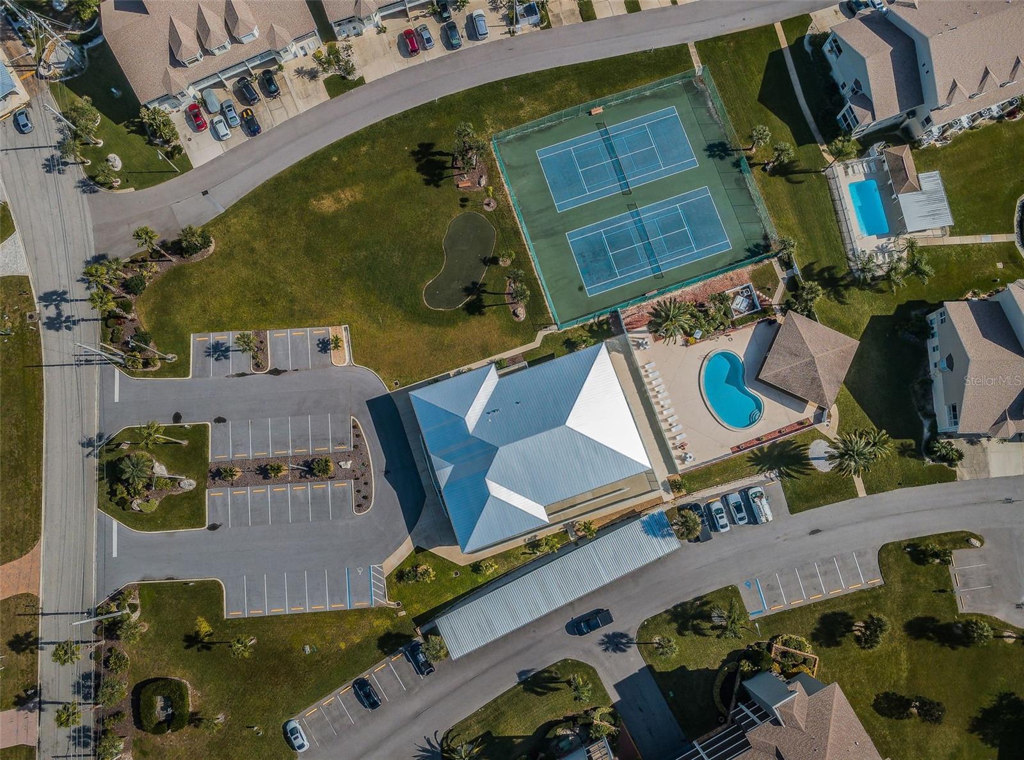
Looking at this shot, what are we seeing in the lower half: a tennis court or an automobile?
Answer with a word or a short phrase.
automobile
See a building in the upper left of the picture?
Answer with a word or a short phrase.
Yes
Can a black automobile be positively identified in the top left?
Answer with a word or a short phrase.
Yes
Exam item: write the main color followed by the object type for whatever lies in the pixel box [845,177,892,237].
blue swimming pool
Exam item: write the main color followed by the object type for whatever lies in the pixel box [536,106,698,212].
blue tennis court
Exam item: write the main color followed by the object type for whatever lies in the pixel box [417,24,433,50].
gray car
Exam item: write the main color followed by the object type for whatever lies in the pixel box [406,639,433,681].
black truck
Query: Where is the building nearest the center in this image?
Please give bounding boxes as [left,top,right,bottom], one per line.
[409,342,653,556]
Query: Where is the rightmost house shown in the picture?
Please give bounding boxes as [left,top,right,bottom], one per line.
[923,283,1024,445]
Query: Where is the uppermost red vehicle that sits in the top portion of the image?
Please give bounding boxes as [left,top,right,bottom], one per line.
[403,29,419,56]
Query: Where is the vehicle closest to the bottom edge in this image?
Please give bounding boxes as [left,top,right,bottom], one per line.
[285,718,309,755]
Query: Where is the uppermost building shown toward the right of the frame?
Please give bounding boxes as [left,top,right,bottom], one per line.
[812,0,1024,147]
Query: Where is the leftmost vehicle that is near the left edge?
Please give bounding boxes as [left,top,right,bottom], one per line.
[16,107,34,135]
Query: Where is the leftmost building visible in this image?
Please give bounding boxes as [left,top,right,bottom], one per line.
[0,64,28,114]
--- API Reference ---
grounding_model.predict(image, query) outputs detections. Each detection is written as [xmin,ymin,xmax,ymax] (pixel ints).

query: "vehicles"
[239,78,257,106]
[189,108,206,131]
[242,110,260,138]
[727,492,746,526]
[261,69,279,97]
[213,115,231,142]
[841,0,869,15]
[445,22,461,50]
[16,107,34,135]
[417,24,433,50]
[355,676,380,712]
[568,610,614,635]
[406,639,433,681]
[285,718,309,755]
[223,100,240,127]
[403,29,419,56]
[748,484,772,524]
[708,499,728,534]
[436,0,451,22]
[868,0,884,17]
[692,501,715,540]
[473,10,488,40]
